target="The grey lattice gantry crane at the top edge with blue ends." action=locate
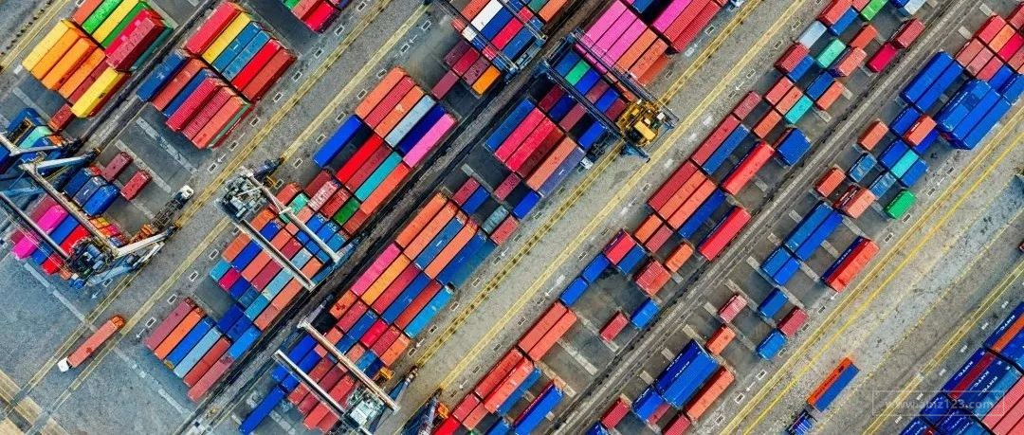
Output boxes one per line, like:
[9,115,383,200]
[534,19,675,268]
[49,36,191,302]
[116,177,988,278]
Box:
[427,0,549,77]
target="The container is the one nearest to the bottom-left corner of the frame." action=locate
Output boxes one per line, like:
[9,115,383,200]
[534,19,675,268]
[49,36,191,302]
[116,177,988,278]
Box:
[66,320,122,367]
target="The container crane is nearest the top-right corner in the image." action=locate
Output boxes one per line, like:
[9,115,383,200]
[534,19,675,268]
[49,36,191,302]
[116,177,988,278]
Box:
[537,24,682,162]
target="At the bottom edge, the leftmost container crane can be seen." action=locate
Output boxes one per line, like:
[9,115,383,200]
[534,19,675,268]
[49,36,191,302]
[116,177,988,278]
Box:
[269,284,421,435]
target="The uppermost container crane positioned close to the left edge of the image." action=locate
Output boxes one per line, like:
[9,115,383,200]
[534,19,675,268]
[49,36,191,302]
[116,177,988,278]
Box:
[0,104,89,178]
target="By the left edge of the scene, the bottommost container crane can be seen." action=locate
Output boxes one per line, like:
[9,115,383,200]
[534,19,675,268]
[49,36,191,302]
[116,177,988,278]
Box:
[0,150,183,294]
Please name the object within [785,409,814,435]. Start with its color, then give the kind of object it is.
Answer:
blue truck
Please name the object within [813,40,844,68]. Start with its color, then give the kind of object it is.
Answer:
green shipping container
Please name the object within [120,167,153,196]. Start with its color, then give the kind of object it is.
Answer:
red shipping container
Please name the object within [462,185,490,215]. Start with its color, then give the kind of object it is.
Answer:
blue shipping container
